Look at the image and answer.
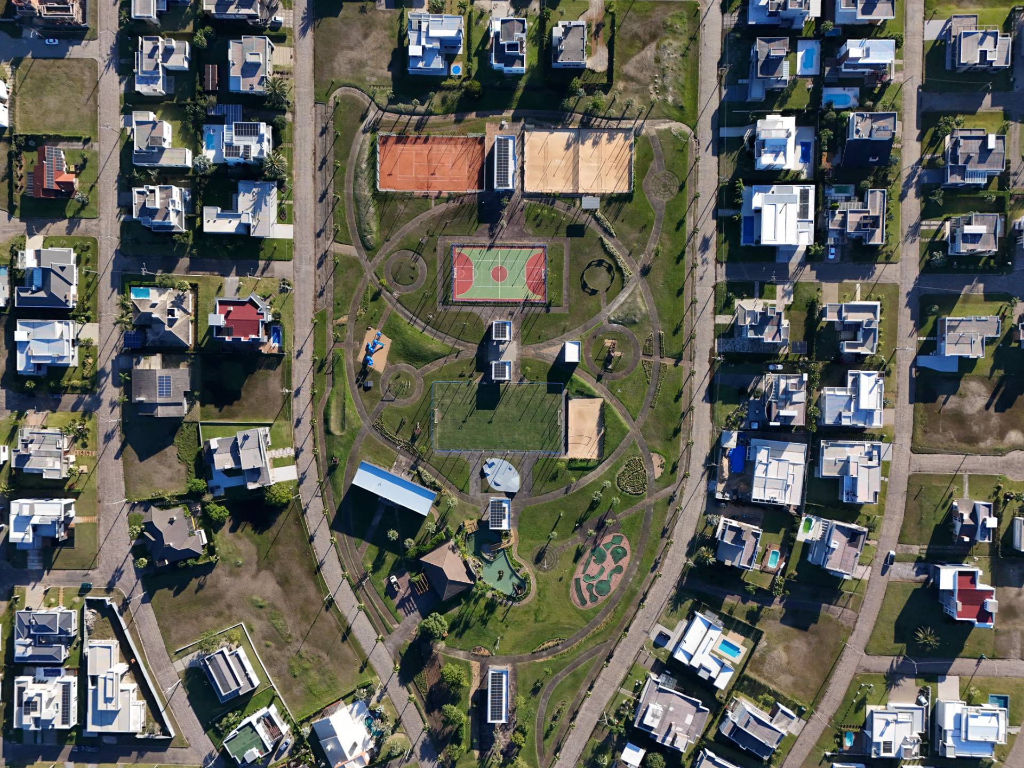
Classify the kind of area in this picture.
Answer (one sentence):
This image shows a residential area.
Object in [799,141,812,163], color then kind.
blue swimming pool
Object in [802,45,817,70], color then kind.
blue swimming pool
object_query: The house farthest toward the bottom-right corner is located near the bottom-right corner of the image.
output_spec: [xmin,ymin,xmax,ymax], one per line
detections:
[936,696,1007,763]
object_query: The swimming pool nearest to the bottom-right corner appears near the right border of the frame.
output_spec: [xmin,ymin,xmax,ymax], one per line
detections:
[989,694,1009,707]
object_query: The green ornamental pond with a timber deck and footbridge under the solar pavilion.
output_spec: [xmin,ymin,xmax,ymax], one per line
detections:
[464,520,526,597]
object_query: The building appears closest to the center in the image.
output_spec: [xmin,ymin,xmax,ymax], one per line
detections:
[492,361,511,380]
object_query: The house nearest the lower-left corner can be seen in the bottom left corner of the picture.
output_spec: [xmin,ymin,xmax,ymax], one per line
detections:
[14,674,79,729]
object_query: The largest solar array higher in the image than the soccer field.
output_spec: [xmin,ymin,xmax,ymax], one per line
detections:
[497,138,509,188]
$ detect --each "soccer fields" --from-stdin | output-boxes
[430,382,564,453]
